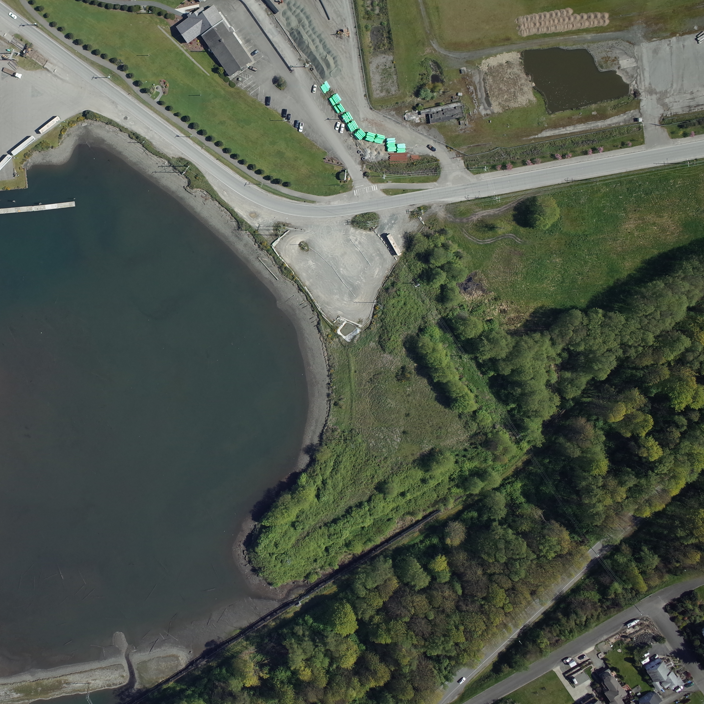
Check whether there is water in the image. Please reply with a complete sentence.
Yes, some water is visible.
